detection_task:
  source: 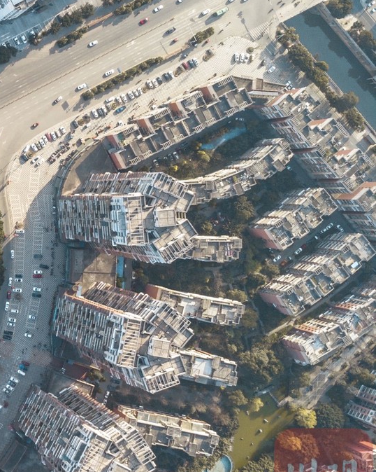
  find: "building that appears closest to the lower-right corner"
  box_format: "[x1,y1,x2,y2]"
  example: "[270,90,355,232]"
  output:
[344,419,376,472]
